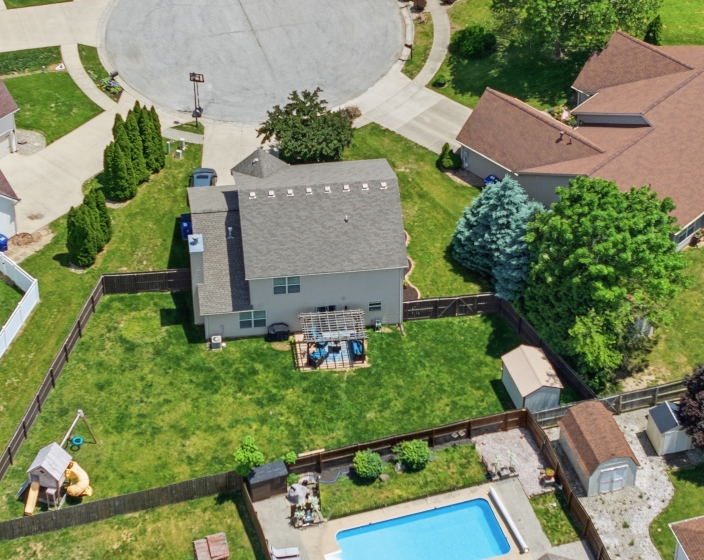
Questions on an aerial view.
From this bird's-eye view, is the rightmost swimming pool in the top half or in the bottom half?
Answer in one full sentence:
Seen from above, the rightmost swimming pool lies in the bottom half of the view.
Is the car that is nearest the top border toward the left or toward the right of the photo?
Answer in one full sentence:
You can find the car that is nearest the top border on the left side of the picture.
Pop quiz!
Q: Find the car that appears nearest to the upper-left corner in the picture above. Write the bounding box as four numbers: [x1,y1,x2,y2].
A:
[186,166,218,212]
